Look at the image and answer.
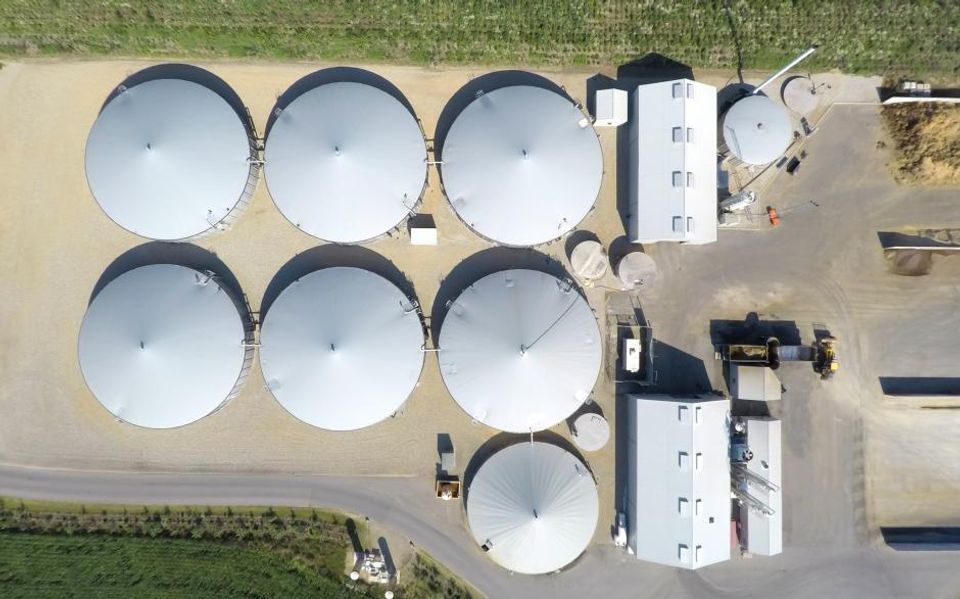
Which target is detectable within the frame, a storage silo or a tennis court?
storage silo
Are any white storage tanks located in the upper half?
Yes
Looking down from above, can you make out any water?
No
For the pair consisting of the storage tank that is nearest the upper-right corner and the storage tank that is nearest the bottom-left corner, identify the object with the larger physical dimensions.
the storage tank that is nearest the bottom-left corner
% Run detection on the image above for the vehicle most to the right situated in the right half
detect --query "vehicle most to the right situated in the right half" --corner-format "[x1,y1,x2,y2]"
[816,336,837,381]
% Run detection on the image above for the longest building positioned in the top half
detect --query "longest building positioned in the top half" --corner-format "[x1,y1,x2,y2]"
[629,81,717,245]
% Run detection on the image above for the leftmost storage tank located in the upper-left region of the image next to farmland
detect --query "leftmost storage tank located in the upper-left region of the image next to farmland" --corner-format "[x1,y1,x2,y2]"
[84,77,259,244]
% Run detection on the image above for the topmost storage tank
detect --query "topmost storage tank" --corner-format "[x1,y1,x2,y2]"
[782,74,829,113]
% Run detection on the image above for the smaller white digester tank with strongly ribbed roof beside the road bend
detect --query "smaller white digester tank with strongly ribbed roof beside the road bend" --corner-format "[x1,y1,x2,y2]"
[467,437,599,576]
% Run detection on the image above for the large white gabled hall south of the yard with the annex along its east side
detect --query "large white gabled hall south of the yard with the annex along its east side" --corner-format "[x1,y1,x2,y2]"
[628,394,733,567]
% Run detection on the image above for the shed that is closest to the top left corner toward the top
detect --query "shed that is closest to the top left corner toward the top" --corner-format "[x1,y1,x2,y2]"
[399,214,438,246]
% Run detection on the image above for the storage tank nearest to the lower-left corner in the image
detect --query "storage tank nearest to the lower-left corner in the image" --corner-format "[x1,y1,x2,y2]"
[78,262,254,429]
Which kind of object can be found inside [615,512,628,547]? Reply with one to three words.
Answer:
vehicle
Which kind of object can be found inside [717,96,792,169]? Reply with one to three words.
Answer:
silo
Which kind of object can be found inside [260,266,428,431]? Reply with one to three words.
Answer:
storage tank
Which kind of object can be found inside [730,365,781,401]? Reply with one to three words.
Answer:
shed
